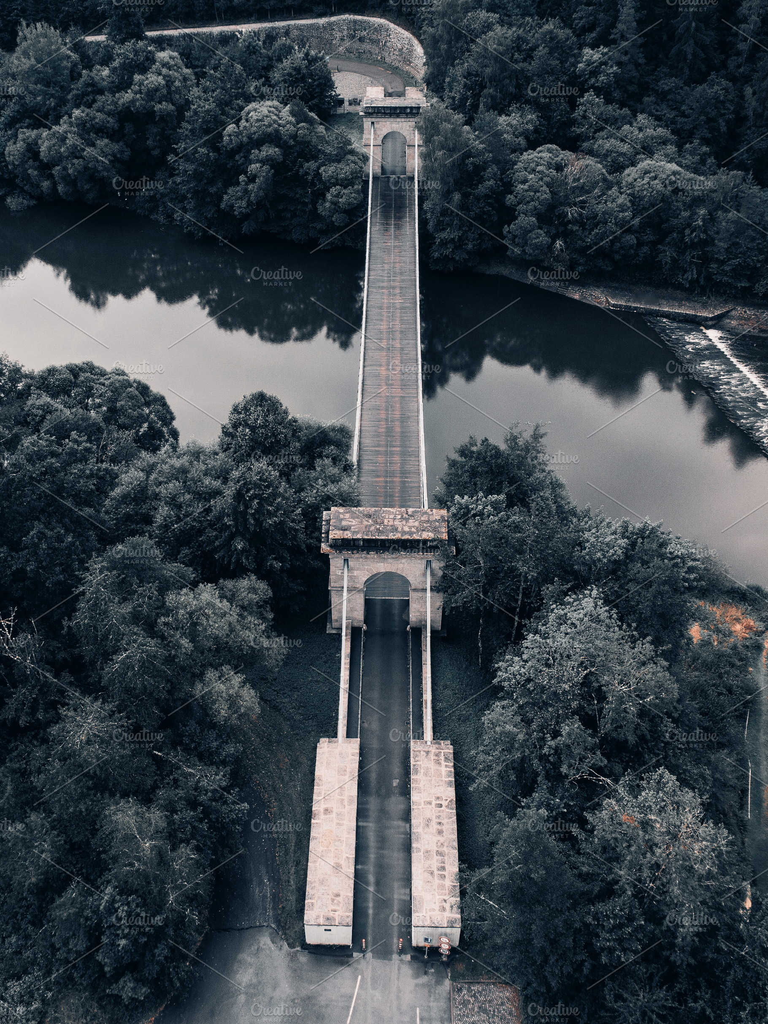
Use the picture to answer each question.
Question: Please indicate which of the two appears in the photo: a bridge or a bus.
bridge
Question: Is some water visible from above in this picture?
Yes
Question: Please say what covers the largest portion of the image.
trees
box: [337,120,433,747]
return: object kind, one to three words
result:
bridge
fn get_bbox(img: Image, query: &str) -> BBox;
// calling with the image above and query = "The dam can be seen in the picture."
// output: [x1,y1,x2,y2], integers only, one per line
[643,314,768,457]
